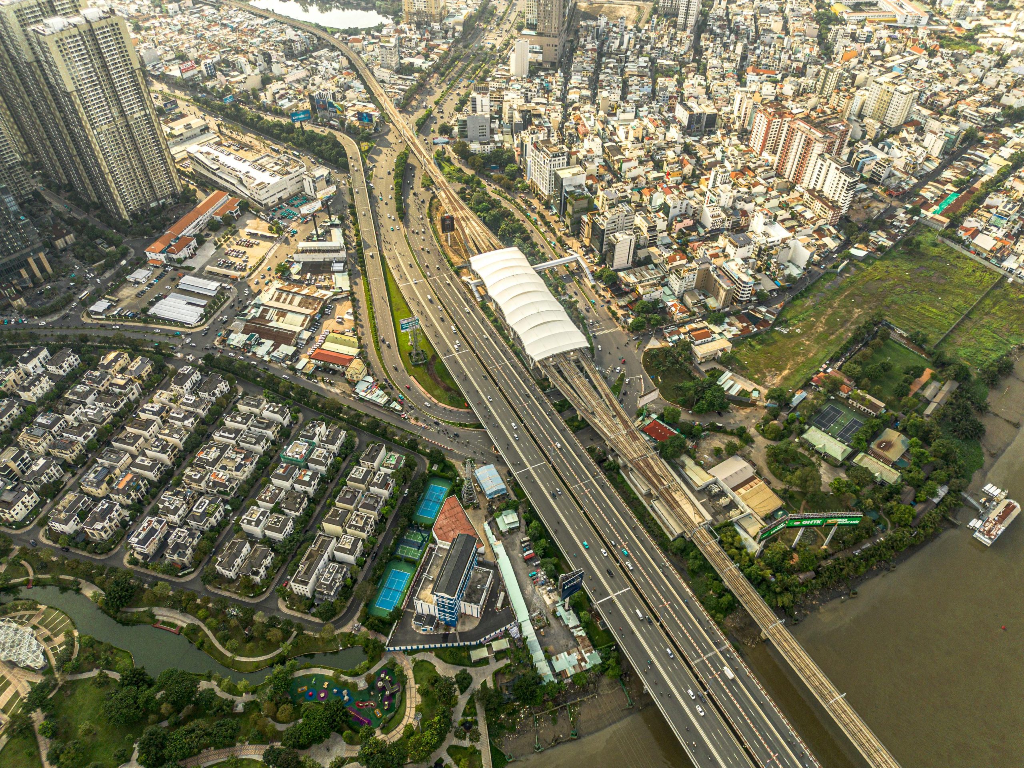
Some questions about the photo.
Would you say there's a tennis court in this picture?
Yes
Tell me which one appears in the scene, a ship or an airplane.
ship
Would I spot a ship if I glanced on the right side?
Yes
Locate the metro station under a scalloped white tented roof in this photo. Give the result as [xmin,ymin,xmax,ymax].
[469,246,589,368]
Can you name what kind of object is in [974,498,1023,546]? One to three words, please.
ship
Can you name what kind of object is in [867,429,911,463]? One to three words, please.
building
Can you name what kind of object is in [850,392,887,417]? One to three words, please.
house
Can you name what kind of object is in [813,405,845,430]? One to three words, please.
tennis court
